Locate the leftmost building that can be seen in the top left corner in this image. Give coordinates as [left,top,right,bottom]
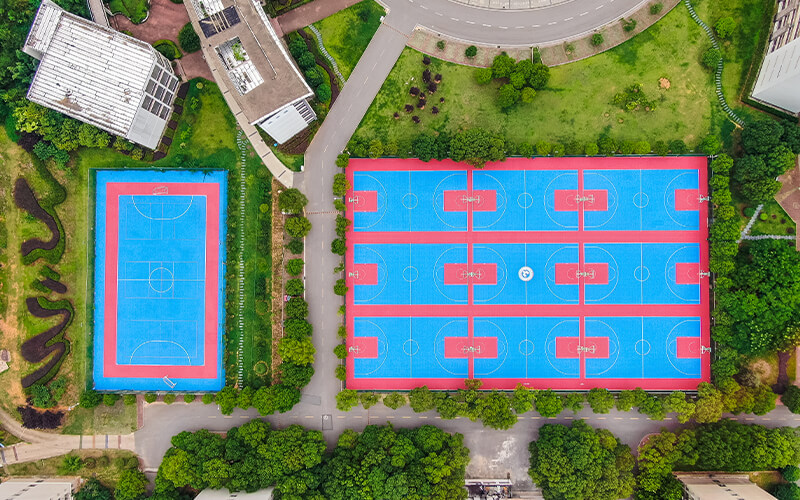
[24,0,177,147]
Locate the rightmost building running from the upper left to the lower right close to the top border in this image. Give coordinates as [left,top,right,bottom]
[189,0,320,145]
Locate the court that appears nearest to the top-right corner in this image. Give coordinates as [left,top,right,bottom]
[583,169,699,231]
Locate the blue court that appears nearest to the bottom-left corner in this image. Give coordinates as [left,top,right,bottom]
[94,170,227,391]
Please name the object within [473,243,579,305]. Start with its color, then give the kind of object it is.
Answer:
blue basketball court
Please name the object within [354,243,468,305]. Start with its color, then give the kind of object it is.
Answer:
blue basketball court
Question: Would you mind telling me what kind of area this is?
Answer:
sports ground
